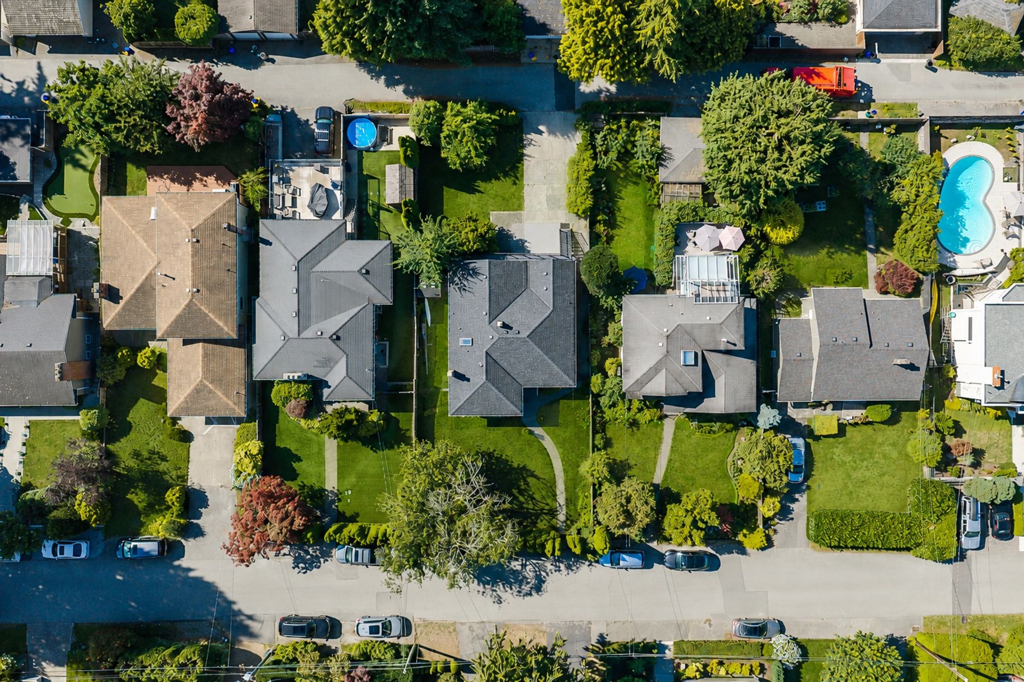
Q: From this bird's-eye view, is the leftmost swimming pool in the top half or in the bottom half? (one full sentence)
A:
The leftmost swimming pool is in the top half of the image.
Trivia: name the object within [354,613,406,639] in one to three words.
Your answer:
car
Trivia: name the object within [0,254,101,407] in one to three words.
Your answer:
house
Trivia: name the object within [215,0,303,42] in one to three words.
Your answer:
building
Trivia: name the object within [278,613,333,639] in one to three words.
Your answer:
car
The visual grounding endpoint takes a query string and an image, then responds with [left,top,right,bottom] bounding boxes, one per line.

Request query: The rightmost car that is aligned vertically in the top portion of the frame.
[313,107,338,159]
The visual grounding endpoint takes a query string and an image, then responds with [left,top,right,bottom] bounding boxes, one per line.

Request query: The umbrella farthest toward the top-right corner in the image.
[999,186,1024,221]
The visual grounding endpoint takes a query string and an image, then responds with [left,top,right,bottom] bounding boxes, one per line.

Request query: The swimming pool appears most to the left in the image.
[346,118,379,152]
